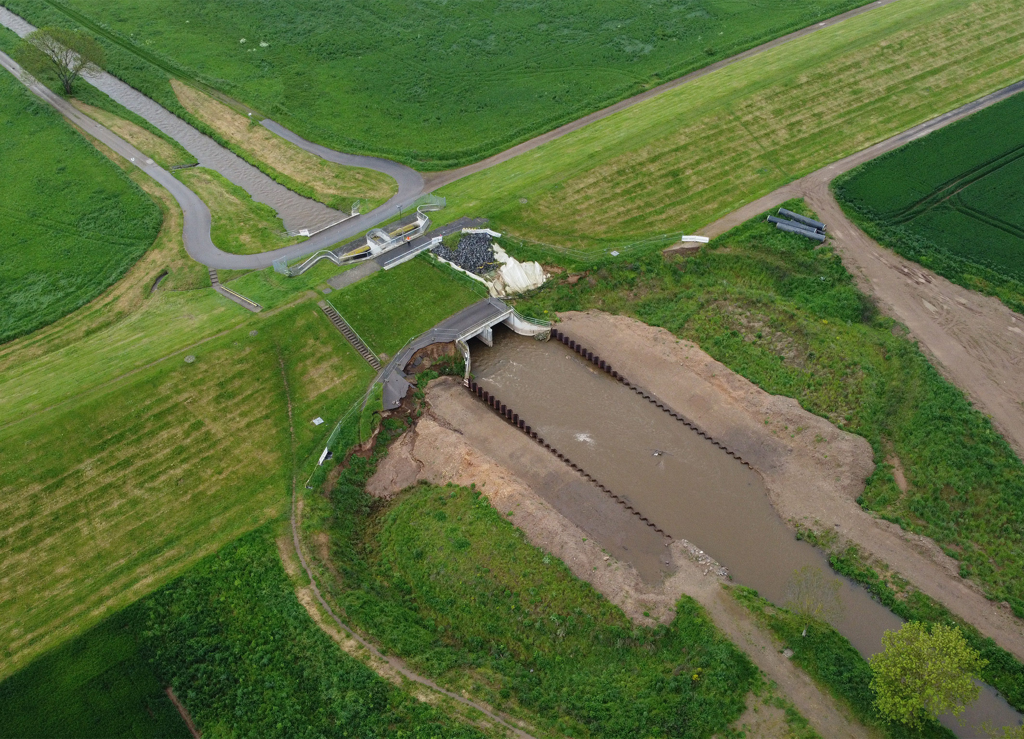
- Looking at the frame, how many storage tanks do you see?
none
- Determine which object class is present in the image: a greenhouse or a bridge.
bridge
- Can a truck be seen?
No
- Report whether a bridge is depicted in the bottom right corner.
No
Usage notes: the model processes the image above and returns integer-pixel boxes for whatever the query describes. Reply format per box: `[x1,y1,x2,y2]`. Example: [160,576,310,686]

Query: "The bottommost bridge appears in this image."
[446,295,551,389]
